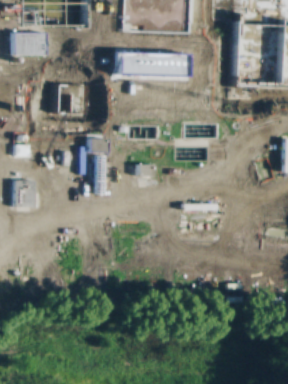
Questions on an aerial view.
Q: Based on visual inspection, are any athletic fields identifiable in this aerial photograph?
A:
No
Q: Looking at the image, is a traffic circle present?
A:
No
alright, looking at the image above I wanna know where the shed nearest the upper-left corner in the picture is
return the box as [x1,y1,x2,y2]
[11,32,47,60]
